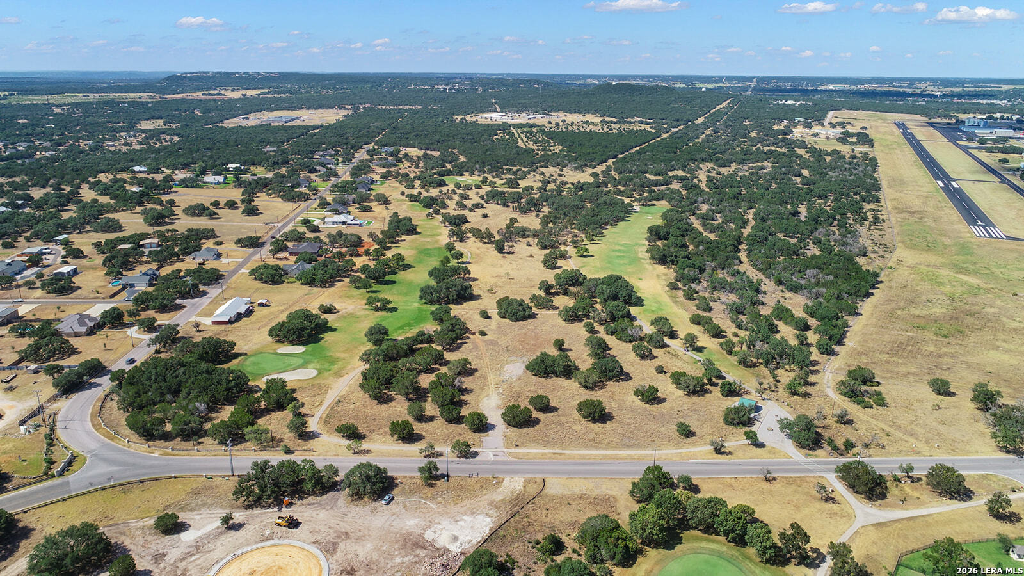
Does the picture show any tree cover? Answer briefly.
Yes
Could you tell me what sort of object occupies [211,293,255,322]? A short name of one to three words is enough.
house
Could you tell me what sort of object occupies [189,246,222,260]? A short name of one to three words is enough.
house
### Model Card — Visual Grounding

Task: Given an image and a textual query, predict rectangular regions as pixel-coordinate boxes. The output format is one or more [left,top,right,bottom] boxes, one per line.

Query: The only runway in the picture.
[895,122,1007,239]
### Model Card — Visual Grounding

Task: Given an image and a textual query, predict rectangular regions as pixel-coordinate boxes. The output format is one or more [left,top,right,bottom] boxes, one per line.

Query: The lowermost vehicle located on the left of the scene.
[277,513,303,529]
